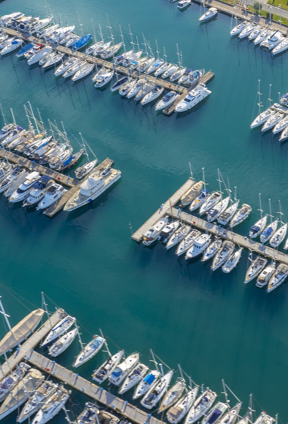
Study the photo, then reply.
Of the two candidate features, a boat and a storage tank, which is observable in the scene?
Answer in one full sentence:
This aerial view contains a boat.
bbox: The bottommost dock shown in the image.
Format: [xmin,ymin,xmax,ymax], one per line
[19,348,173,424]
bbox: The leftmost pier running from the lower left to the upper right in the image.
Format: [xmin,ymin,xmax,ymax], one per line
[0,309,66,379]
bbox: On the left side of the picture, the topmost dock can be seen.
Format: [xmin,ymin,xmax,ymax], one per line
[1,26,188,92]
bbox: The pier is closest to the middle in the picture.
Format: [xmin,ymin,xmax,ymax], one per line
[129,180,196,241]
